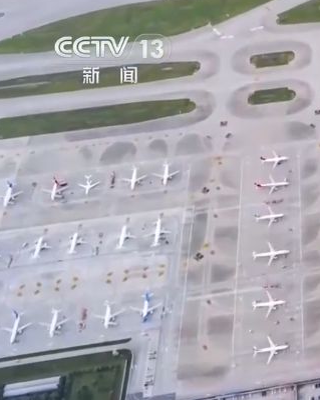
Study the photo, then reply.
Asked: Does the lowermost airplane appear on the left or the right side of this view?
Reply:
right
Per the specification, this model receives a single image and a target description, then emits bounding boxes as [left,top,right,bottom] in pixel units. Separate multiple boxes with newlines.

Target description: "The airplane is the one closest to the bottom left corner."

[0,311,32,342]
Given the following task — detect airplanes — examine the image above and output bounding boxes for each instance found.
[93,302,124,329]
[58,233,87,254]
[0,184,23,205]
[132,294,163,321]
[79,174,101,195]
[255,205,284,227]
[253,240,290,265]
[39,309,70,337]
[107,226,135,247]
[256,174,289,194]
[122,168,148,189]
[42,178,69,199]
[142,218,171,246]
[0,311,32,342]
[253,289,285,316]
[154,163,179,184]
[254,332,288,363]
[22,237,52,258]
[261,149,288,167]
